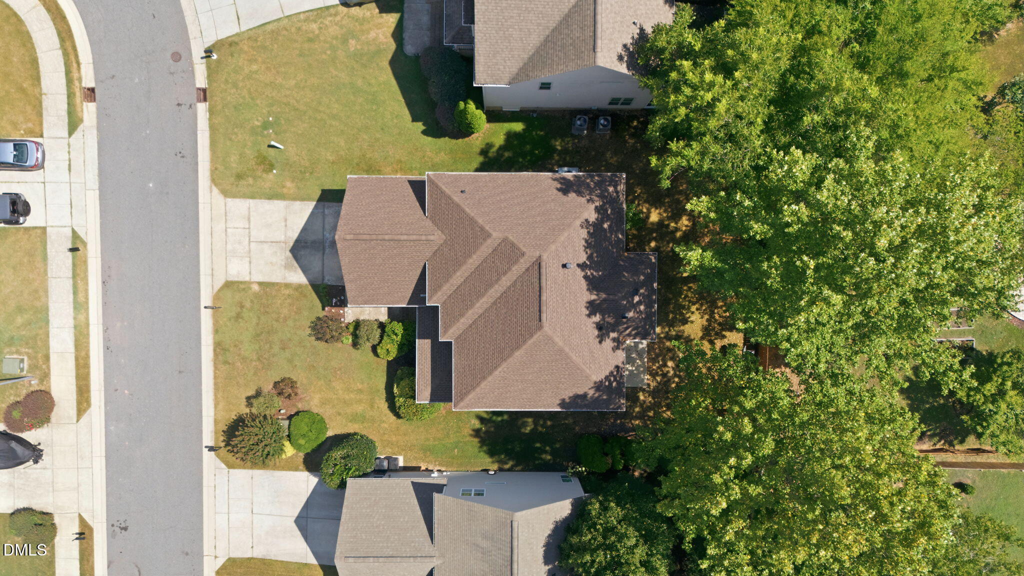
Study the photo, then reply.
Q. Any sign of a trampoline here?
No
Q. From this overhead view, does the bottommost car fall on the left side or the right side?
left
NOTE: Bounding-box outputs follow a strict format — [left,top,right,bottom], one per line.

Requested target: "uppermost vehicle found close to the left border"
[0,140,45,171]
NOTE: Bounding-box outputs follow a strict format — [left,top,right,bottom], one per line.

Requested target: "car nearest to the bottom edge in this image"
[0,194,30,224]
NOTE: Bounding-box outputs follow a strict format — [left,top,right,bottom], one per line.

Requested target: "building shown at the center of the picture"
[335,171,658,412]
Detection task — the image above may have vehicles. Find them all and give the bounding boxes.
[0,194,30,224]
[348,0,372,6]
[0,140,45,171]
